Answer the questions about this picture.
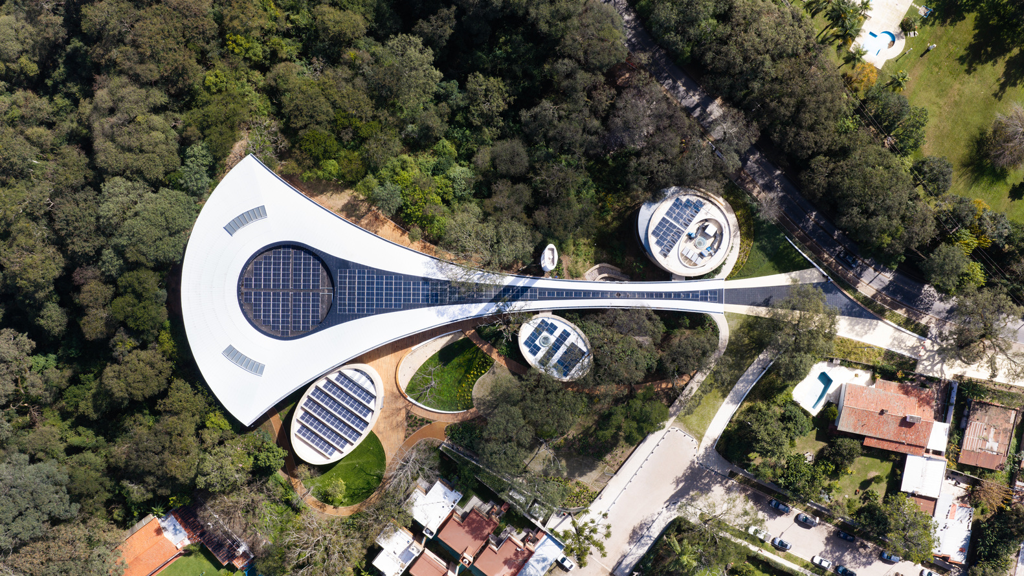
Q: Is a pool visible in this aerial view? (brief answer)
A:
Yes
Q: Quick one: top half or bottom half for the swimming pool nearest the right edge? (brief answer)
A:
top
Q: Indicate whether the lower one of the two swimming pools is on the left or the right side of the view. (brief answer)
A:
right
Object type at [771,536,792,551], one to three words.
car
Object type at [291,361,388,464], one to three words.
building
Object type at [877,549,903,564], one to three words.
vehicle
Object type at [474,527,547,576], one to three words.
house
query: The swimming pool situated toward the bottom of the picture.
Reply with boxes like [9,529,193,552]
[792,360,874,416]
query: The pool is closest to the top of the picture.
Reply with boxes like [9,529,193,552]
[847,0,912,71]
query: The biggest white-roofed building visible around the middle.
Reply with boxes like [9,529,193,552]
[181,153,725,428]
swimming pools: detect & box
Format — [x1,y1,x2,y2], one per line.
[792,360,874,416]
[847,0,912,71]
